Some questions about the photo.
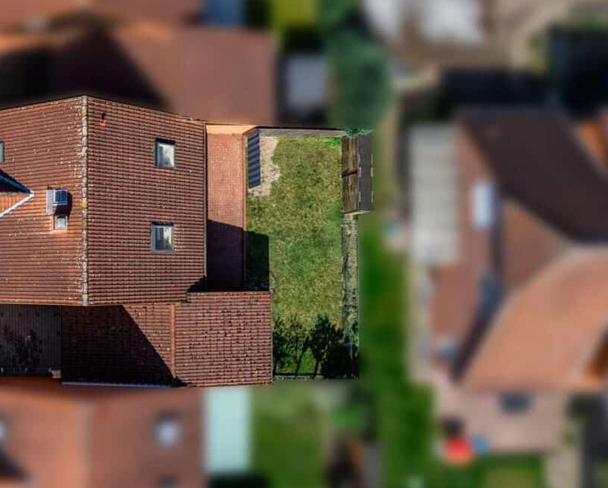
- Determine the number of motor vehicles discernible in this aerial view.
0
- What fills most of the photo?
buildings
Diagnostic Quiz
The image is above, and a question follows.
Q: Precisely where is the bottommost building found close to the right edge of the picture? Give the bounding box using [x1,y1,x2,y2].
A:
[420,111,608,392]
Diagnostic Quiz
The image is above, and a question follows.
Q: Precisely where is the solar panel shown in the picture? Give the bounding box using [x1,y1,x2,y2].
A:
[46,189,65,205]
